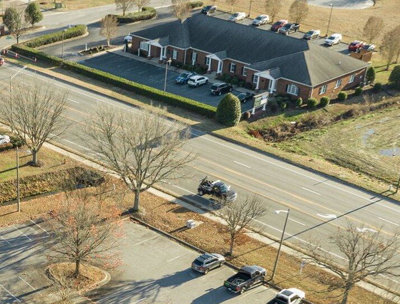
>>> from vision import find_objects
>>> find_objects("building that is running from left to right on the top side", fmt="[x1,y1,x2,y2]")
[129,11,372,104]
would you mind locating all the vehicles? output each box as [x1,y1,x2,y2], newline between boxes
[236,91,254,102]
[251,12,270,25]
[303,28,320,39]
[173,73,192,84]
[227,11,245,20]
[207,80,232,95]
[361,41,378,51]
[346,39,364,50]
[264,288,308,304]
[269,20,286,30]
[222,266,267,293]
[185,74,208,87]
[118,35,131,45]
[199,3,217,13]
[278,20,301,32]
[193,171,236,202]
[189,253,225,274]
[324,32,343,45]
